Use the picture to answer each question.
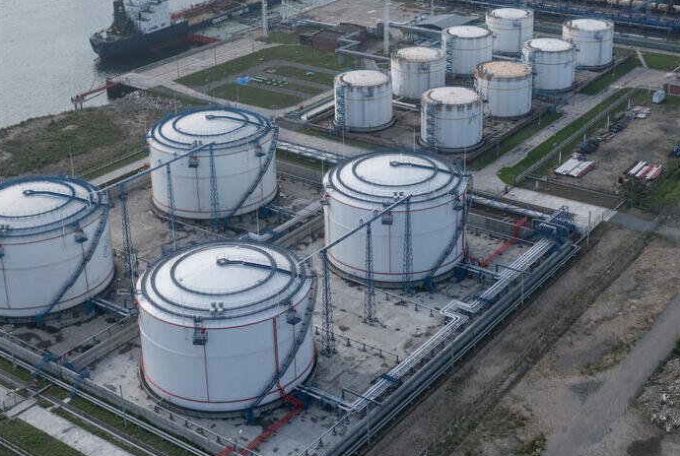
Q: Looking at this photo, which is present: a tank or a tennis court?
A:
tank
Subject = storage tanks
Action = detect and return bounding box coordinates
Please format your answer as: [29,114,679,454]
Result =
[0,147,121,323]
[317,128,472,287]
[570,21,620,74]
[423,87,491,155]
[335,70,398,135]
[127,216,320,419]
[491,8,537,58]
[528,38,582,95]
[395,45,448,103]
[447,27,499,80]
[142,88,282,224]
[480,60,538,122]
